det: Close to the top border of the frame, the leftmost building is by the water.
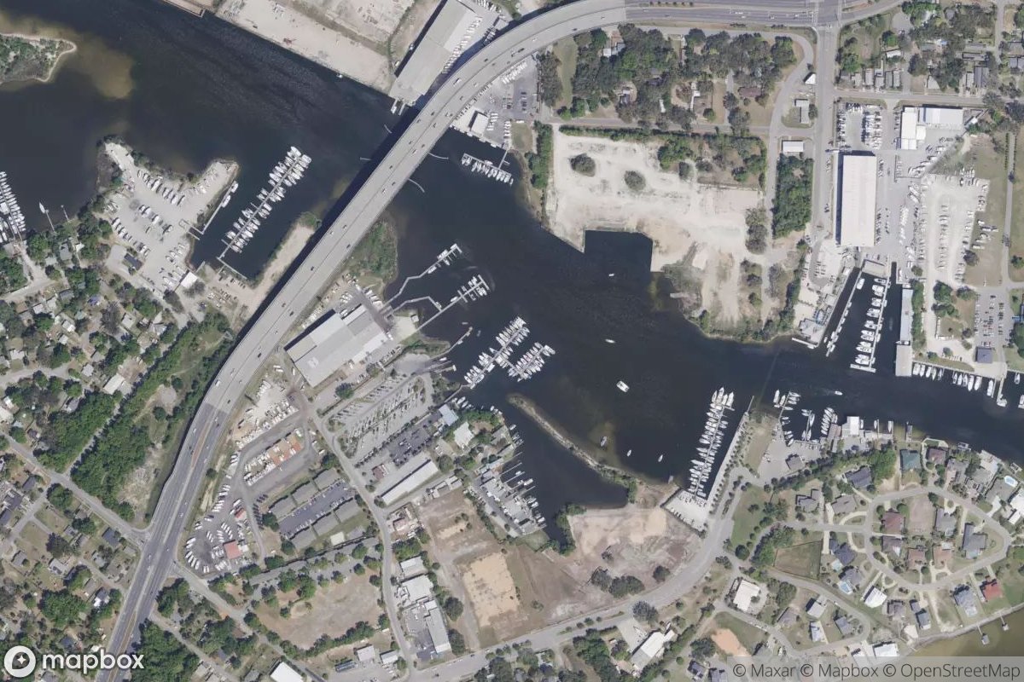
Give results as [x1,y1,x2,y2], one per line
[390,0,475,104]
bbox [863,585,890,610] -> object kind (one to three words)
shed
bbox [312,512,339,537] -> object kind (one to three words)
building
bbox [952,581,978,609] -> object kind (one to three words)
house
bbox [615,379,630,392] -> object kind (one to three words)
boat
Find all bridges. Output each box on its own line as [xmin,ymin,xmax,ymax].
[202,0,631,415]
